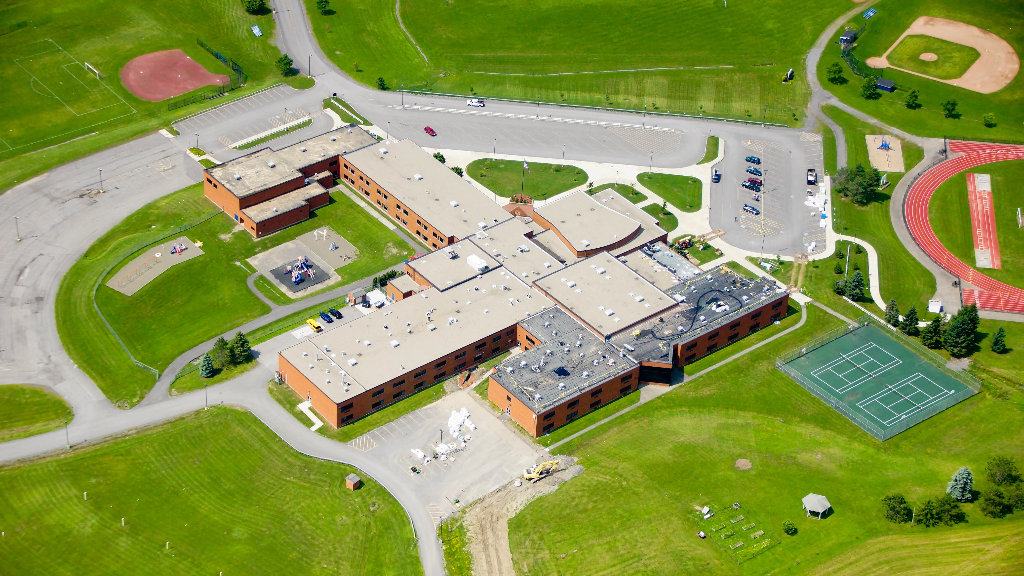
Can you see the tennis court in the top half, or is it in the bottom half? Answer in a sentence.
The tennis court sits in the bottom half of the picture.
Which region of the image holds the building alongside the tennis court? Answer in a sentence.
The building alongside the tennis court is located in the center region of the scene.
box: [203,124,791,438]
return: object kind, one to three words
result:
building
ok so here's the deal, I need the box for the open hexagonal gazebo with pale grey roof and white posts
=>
[802,494,832,520]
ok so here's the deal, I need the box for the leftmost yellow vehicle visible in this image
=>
[305,318,322,331]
